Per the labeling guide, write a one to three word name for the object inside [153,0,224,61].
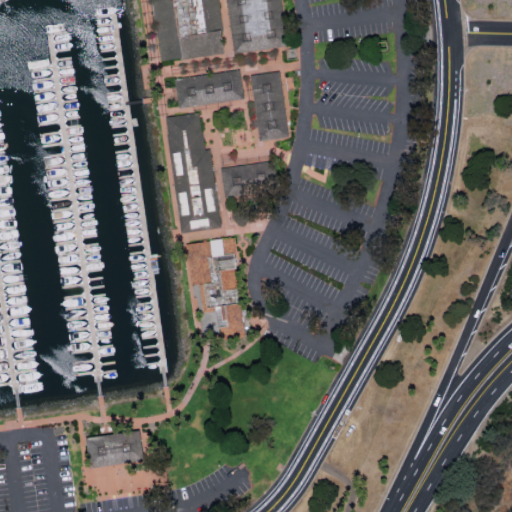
building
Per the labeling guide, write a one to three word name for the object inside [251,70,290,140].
building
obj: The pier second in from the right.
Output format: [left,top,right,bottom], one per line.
[32,32,118,396]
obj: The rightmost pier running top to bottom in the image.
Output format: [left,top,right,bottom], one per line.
[97,8,168,387]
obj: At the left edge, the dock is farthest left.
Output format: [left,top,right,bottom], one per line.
[0,118,44,406]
